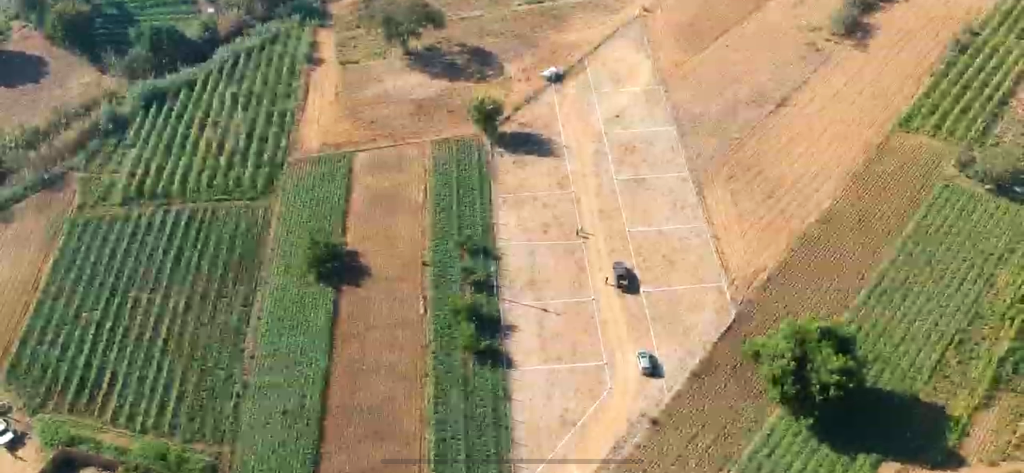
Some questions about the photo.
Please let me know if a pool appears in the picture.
No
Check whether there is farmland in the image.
Yes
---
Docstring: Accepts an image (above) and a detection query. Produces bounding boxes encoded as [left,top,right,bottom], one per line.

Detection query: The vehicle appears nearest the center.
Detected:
[616,266,633,292]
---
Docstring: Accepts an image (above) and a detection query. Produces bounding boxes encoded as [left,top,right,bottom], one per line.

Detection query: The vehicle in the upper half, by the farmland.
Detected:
[543,70,564,82]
